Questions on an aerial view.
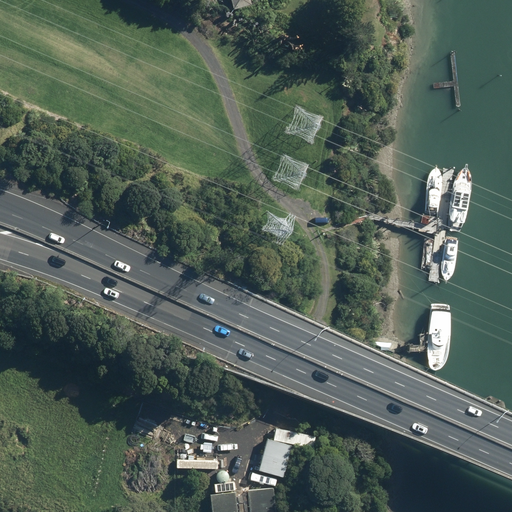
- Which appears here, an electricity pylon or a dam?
electricity pylon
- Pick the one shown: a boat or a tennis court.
boat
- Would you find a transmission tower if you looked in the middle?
Yes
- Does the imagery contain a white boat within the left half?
No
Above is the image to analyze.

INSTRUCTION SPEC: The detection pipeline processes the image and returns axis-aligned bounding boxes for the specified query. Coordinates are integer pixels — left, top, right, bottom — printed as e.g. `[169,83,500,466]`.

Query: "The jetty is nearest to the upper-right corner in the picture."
[433,49,462,110]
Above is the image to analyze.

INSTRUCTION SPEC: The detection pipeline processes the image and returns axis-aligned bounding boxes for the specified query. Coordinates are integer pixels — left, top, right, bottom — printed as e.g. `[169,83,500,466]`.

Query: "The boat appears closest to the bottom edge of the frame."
[426,300,452,378]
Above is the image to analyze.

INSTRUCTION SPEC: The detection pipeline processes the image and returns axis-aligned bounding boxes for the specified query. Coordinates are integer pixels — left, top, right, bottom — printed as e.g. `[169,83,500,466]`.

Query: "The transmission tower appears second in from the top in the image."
[272,152,312,192]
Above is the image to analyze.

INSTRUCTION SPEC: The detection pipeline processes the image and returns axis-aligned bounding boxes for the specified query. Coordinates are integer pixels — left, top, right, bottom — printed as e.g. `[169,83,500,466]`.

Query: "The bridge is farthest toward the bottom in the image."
[222,296,512,488]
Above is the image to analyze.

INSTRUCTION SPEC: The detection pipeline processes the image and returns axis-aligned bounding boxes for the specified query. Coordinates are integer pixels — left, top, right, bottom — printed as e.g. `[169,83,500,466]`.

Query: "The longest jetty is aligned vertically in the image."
[420,168,456,284]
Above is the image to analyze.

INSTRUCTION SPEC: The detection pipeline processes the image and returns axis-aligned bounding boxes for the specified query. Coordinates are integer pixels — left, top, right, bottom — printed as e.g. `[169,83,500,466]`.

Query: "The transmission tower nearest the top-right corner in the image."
[285,104,326,147]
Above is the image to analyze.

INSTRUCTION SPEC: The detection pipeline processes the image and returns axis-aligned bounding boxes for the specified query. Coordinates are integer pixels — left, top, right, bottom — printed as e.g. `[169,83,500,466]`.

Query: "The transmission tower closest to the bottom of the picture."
[260,208,300,249]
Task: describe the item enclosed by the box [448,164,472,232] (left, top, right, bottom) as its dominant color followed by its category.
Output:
white boat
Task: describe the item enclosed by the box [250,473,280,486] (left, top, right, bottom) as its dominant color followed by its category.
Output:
white vehicle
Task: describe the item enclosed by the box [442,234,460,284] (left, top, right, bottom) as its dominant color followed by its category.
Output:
white boat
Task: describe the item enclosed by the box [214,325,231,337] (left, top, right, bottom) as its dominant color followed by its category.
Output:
blue vehicle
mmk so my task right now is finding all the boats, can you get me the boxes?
[426,166,444,218]
[442,234,460,284]
[426,300,452,378]
[448,164,472,232]
[422,238,436,270]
